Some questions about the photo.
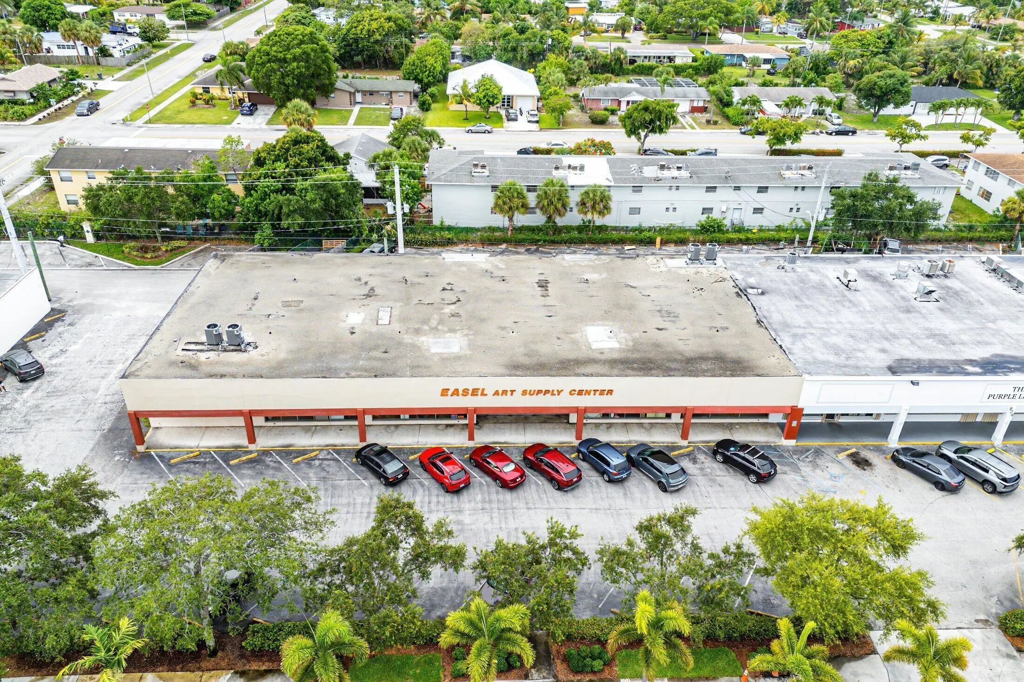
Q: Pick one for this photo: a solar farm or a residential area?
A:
residential area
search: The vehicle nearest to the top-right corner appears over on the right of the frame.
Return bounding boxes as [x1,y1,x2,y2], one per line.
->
[927,154,962,168]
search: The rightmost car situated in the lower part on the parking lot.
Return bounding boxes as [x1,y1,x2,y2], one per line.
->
[940,442,1023,497]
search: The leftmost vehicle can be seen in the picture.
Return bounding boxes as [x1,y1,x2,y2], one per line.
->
[0,351,45,383]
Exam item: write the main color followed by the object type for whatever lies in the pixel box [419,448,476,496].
red car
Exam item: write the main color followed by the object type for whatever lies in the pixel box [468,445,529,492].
red car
